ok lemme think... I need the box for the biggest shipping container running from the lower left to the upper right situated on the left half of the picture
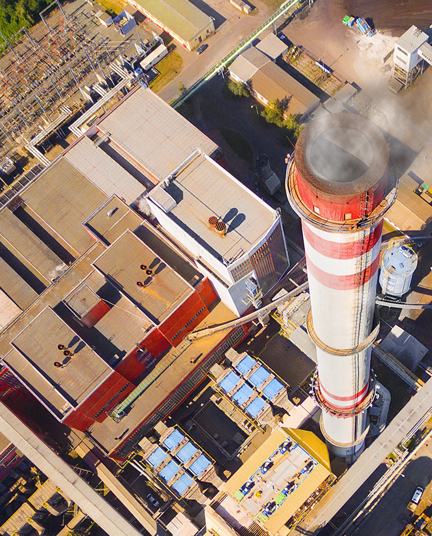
[140,46,169,72]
